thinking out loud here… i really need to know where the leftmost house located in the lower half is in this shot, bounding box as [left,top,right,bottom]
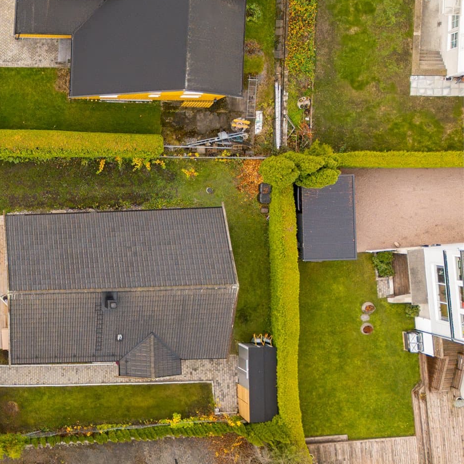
[4,206,240,380]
